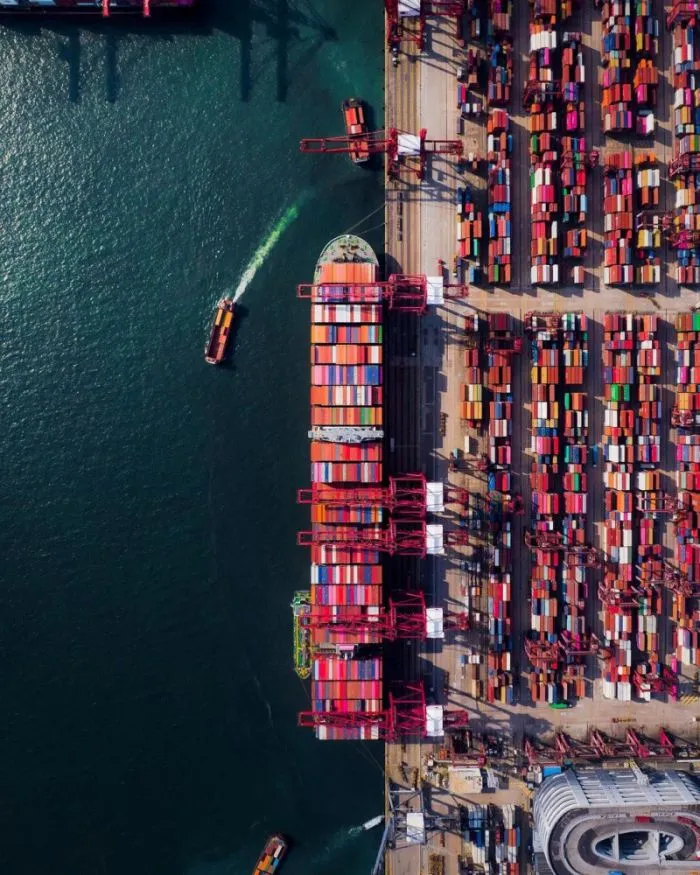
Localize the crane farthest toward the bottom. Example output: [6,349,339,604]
[372,778,462,875]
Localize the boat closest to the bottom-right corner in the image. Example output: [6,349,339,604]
[362,817,382,831]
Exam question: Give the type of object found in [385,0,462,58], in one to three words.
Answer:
container crane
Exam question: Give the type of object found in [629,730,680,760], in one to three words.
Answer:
container crane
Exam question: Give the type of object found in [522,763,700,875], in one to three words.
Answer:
building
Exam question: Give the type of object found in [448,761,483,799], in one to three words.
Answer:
shed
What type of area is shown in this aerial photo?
port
